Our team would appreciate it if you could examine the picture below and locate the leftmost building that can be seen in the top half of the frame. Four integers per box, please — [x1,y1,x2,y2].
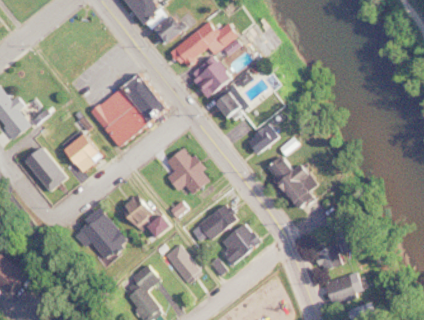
[0,86,32,138]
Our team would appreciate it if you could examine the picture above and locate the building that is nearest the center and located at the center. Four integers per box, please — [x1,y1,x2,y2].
[166,148,212,194]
